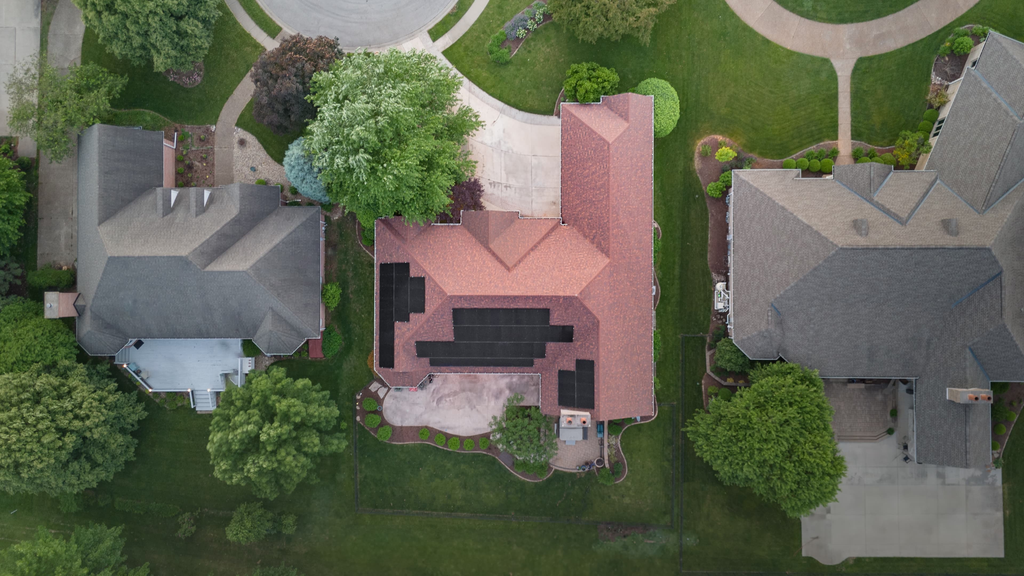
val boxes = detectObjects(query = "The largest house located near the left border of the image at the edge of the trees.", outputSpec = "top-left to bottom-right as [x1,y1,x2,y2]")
[44,124,326,356]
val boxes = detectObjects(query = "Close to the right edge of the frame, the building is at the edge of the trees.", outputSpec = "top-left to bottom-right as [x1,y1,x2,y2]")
[727,30,1024,468]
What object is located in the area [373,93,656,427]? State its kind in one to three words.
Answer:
house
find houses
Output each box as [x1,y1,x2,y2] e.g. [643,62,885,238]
[44,124,326,356]
[373,93,656,427]
[727,30,1024,468]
